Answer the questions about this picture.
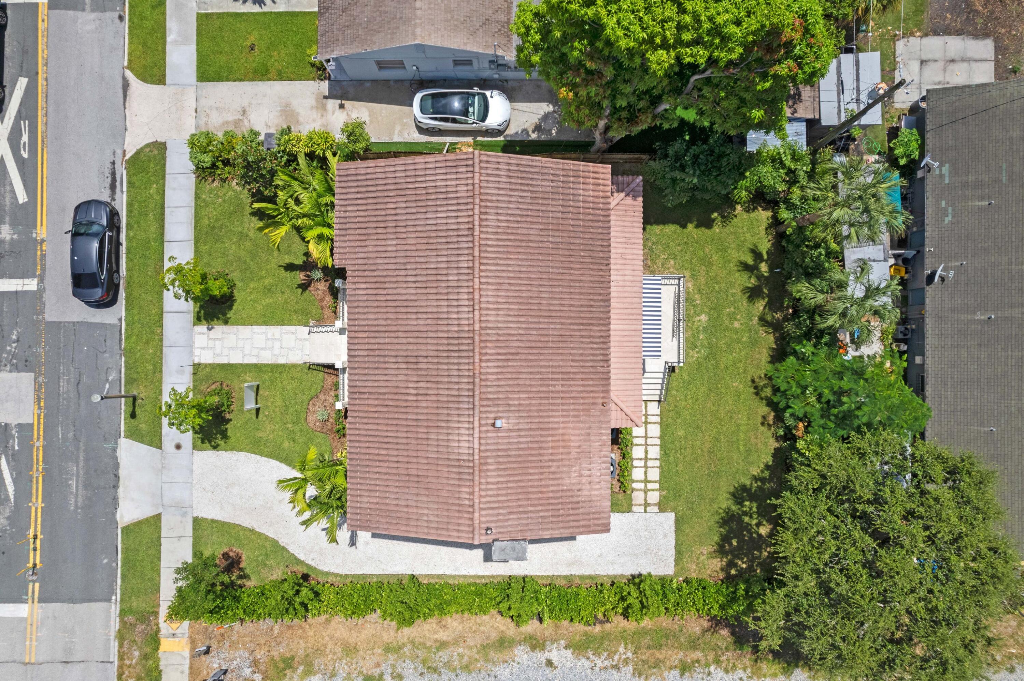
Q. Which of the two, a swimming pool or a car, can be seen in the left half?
car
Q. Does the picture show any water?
No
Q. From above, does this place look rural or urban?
urban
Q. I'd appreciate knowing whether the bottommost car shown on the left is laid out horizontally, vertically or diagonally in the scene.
vertically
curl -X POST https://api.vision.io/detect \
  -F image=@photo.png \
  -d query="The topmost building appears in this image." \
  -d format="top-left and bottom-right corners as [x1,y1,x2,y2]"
[317,0,518,81]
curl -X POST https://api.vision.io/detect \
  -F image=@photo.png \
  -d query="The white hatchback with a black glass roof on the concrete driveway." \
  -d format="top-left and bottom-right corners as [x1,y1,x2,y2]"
[409,83,514,132]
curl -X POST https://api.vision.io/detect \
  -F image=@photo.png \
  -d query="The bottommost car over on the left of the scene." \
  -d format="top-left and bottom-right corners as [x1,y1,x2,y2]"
[67,198,122,303]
